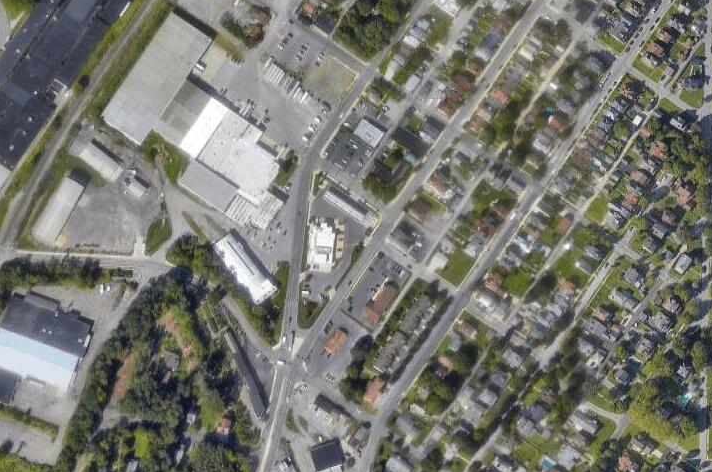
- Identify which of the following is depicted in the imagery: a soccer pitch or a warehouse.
warehouse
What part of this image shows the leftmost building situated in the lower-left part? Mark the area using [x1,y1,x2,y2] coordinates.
[0,292,94,401]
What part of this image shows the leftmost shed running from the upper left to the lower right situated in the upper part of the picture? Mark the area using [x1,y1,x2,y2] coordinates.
[81,144,122,182]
